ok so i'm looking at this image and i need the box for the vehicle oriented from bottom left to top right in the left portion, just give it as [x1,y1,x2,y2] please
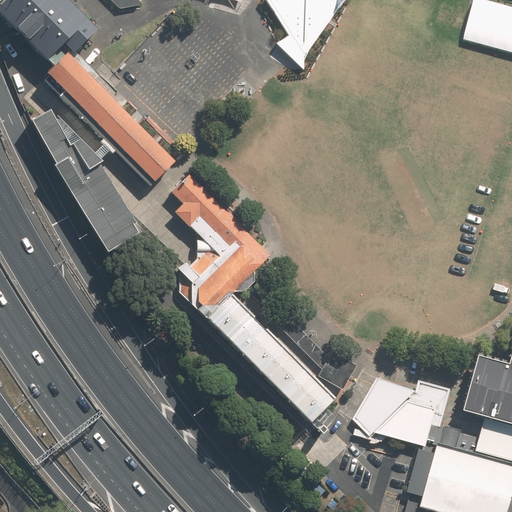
[86,48,100,64]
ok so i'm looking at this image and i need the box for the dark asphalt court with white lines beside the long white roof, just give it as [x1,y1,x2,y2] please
[262,312,330,374]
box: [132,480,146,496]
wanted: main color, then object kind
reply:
white car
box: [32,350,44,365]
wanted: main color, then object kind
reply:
white vehicle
